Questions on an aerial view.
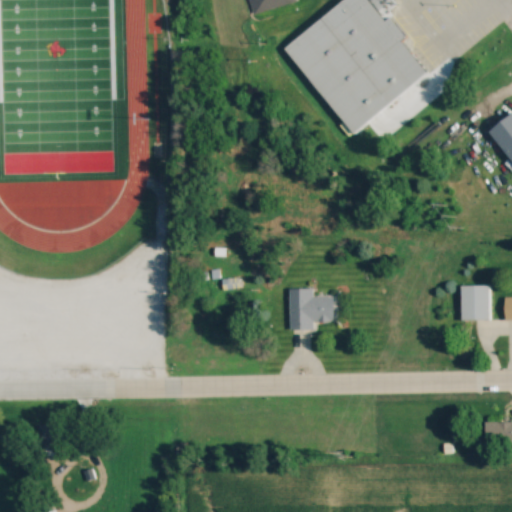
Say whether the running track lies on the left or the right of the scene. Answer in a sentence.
You can find the running track on the left side of the picture.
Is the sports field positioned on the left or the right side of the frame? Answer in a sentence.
It is on the left.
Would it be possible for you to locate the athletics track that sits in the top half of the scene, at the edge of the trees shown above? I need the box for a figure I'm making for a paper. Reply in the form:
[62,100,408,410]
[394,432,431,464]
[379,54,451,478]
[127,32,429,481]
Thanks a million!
[0,0,150,252]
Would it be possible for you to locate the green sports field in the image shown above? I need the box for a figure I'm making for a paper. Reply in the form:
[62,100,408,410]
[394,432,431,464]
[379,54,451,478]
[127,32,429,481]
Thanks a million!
[0,0,128,183]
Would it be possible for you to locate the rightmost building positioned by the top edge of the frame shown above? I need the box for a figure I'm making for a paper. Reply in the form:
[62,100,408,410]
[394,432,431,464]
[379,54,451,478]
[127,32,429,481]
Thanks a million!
[284,0,430,136]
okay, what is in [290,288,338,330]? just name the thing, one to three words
house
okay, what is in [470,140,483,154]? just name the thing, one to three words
vehicle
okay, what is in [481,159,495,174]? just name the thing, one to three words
camper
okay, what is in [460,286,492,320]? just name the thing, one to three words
house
